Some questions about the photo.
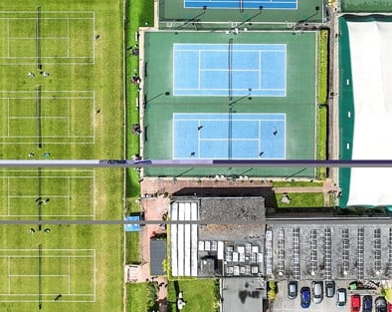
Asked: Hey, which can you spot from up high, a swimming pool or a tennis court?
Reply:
tennis court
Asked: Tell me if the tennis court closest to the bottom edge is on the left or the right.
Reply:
left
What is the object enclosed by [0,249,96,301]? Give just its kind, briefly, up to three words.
tennis court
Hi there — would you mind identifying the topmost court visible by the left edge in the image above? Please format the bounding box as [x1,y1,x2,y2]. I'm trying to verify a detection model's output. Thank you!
[0,12,94,63]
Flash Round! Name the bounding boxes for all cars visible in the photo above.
[336,286,345,306]
[376,297,386,312]
[362,293,372,312]
[350,294,359,312]
[301,285,312,307]
[326,279,335,298]
[288,279,299,298]
[313,280,323,303]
